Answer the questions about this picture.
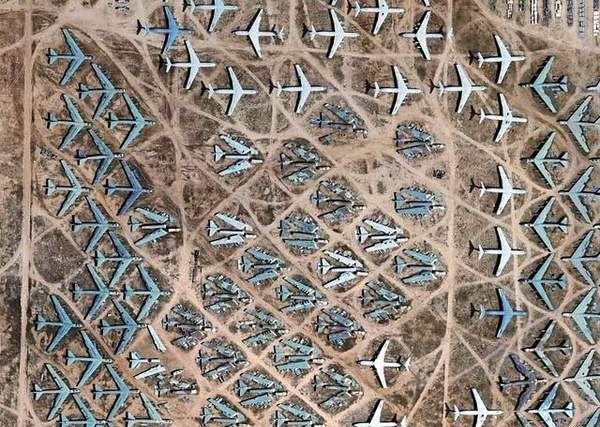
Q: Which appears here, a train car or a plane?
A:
plane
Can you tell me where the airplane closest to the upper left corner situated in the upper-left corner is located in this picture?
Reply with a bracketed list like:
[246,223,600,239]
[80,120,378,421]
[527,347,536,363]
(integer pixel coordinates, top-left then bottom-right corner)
[47,29,94,85]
